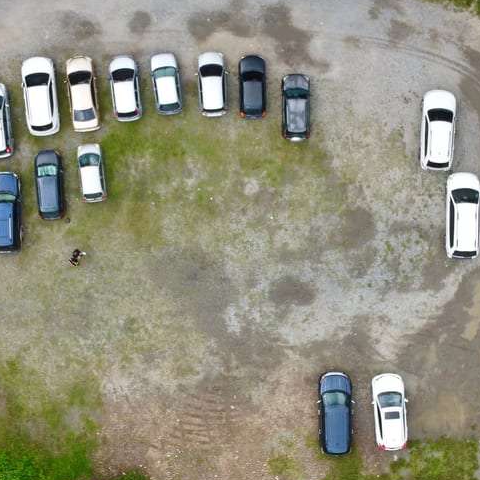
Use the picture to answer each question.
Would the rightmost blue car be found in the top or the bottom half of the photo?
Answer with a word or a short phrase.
bottom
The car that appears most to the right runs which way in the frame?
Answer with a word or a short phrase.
vertically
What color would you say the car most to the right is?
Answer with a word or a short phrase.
white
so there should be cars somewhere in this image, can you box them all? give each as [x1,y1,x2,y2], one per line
[149,52,182,116]
[237,55,269,120]
[21,56,61,138]
[280,74,313,141]
[372,371,408,451]
[195,51,227,119]
[420,89,458,171]
[75,143,107,203]
[0,83,14,160]
[64,55,101,133]
[32,150,66,220]
[108,55,142,123]
[319,371,355,455]
[0,171,23,253]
